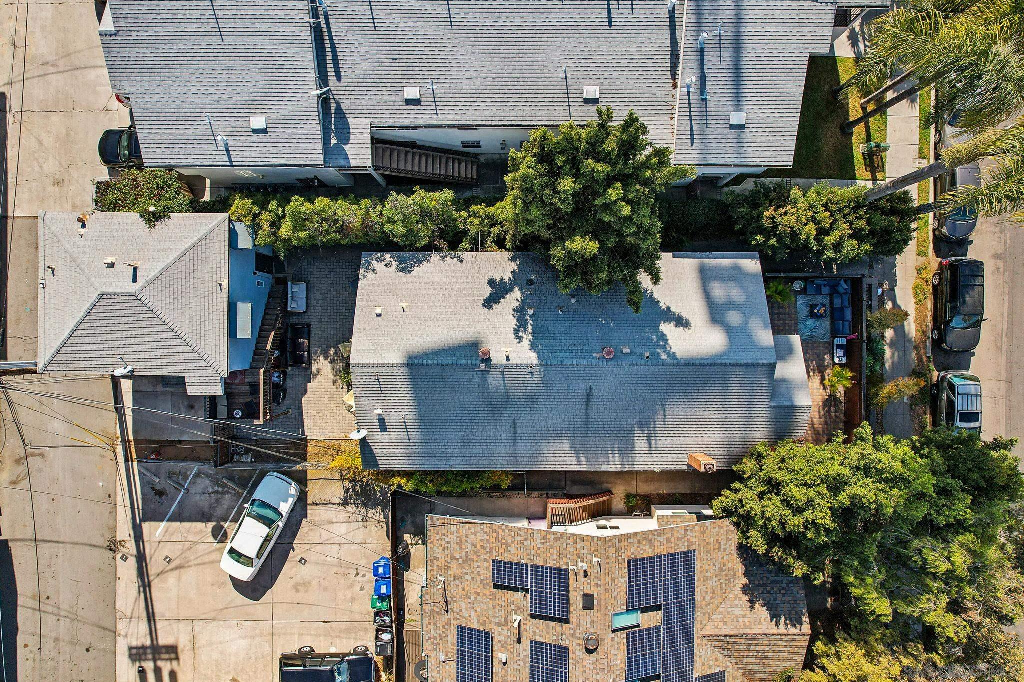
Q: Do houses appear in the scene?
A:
Yes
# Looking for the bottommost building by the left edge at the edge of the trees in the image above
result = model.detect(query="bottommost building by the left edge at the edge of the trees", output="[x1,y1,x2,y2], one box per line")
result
[36,210,268,396]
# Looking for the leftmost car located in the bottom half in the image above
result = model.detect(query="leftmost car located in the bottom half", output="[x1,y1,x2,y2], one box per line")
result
[222,472,300,580]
